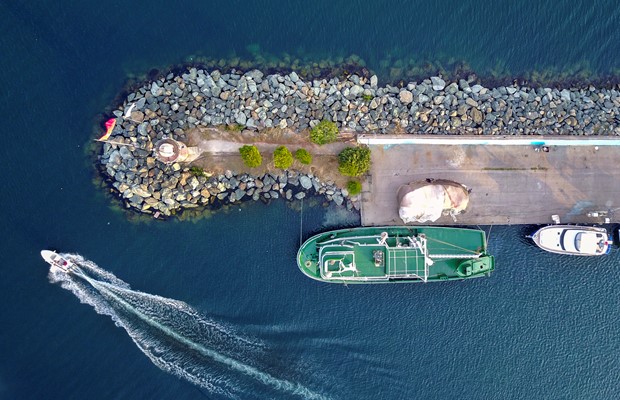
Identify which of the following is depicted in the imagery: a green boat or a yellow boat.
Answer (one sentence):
Looking from above, you can make out a green boat.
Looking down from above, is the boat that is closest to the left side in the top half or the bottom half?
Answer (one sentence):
You can find the boat that is closest to the left side in the bottom half.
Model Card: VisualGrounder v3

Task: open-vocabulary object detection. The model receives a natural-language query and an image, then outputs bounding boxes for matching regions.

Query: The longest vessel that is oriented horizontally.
[297,224,489,287]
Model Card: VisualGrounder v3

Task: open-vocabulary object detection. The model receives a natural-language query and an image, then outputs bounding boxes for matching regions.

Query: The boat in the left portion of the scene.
[41,251,76,272]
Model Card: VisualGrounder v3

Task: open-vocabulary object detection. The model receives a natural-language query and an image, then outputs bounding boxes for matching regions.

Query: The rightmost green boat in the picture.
[457,255,495,276]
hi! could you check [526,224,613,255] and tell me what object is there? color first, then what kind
white boat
